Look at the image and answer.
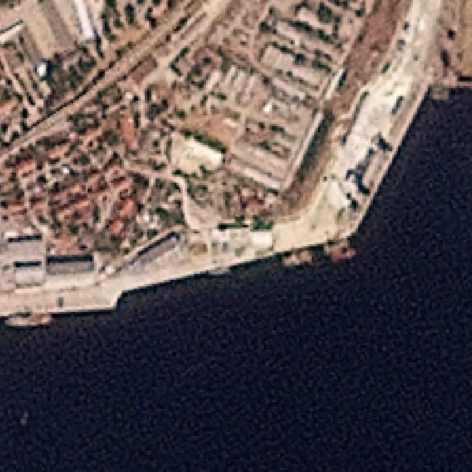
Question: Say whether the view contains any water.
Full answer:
Yes, there is water in the image.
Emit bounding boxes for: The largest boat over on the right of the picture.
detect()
[324,241,355,257]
